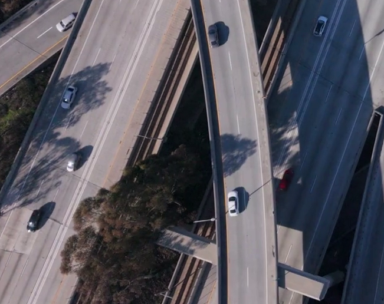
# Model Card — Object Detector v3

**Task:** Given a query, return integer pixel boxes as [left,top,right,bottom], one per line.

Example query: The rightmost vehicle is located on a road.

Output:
[313,14,326,38]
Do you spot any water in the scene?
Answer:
No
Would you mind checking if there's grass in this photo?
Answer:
No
